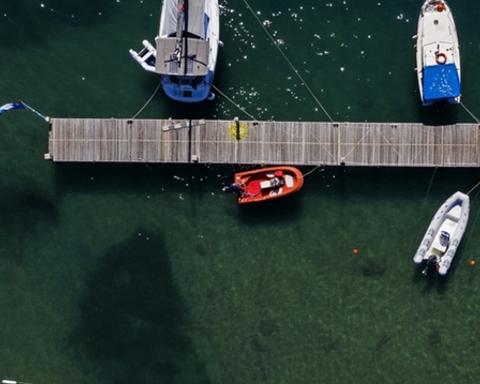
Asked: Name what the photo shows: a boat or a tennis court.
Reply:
boat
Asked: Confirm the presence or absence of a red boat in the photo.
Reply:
Yes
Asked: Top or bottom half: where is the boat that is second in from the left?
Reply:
top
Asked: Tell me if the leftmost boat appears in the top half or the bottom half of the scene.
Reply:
top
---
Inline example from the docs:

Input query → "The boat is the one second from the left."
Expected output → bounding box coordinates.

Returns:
[153,0,225,109]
